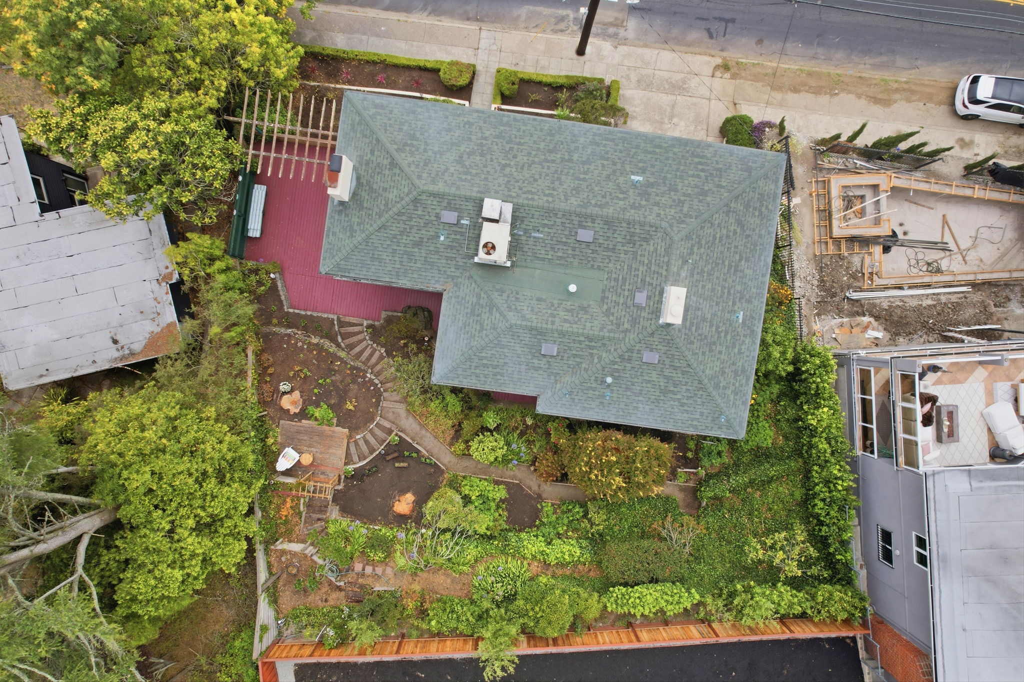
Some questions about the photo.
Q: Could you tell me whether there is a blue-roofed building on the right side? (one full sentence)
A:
No, the scene shows no blue-roofed building on the right side.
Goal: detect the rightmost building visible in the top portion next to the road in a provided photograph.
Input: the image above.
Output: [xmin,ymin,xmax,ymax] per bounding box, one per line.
[316,87,789,442]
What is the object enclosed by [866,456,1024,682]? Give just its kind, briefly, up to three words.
building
